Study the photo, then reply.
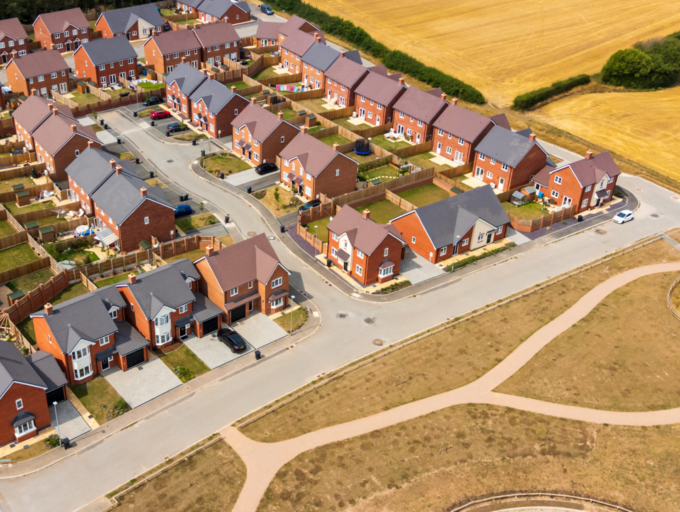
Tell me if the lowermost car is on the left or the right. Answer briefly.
left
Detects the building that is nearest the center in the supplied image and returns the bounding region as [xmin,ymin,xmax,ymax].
[326,205,410,285]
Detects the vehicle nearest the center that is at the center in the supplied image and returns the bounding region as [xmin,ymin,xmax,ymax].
[298,198,322,212]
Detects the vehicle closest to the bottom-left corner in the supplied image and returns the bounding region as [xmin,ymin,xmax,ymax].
[217,330,247,356]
